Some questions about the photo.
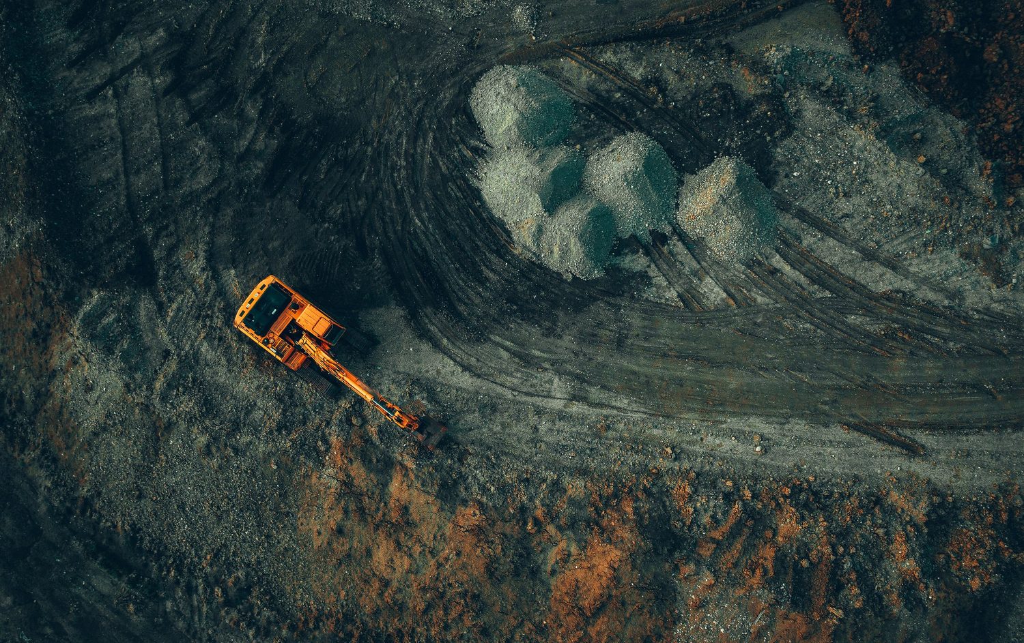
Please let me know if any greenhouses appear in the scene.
No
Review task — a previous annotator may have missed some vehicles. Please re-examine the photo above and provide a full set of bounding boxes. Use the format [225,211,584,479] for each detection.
[237,276,448,452]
